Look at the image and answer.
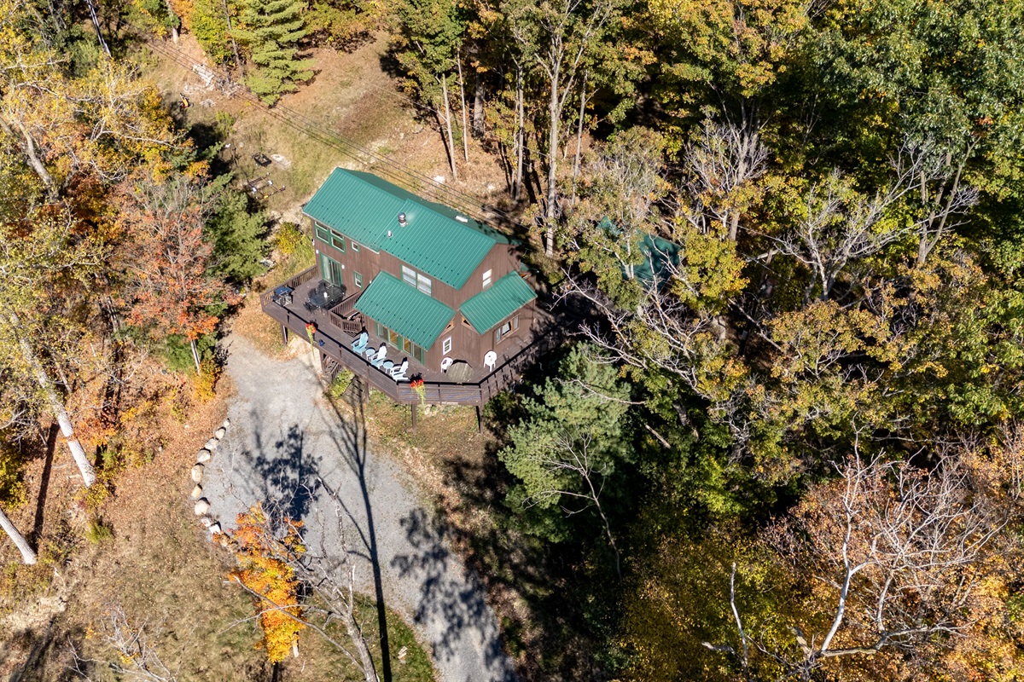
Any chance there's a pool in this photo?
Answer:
No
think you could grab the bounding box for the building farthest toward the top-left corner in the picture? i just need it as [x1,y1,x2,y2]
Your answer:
[297,168,539,374]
